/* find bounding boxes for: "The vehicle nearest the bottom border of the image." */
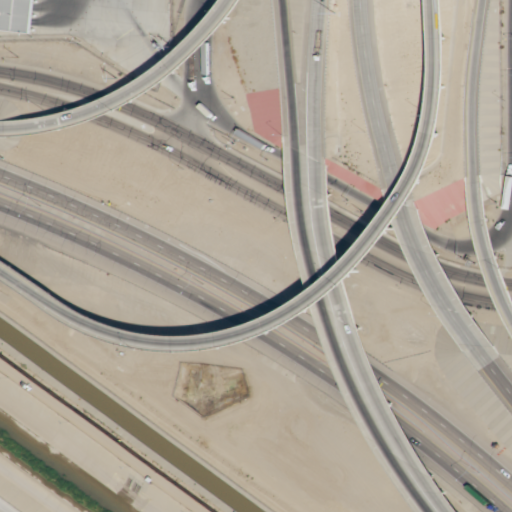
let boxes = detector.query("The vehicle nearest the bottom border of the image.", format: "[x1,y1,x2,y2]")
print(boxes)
[464,482,501,512]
